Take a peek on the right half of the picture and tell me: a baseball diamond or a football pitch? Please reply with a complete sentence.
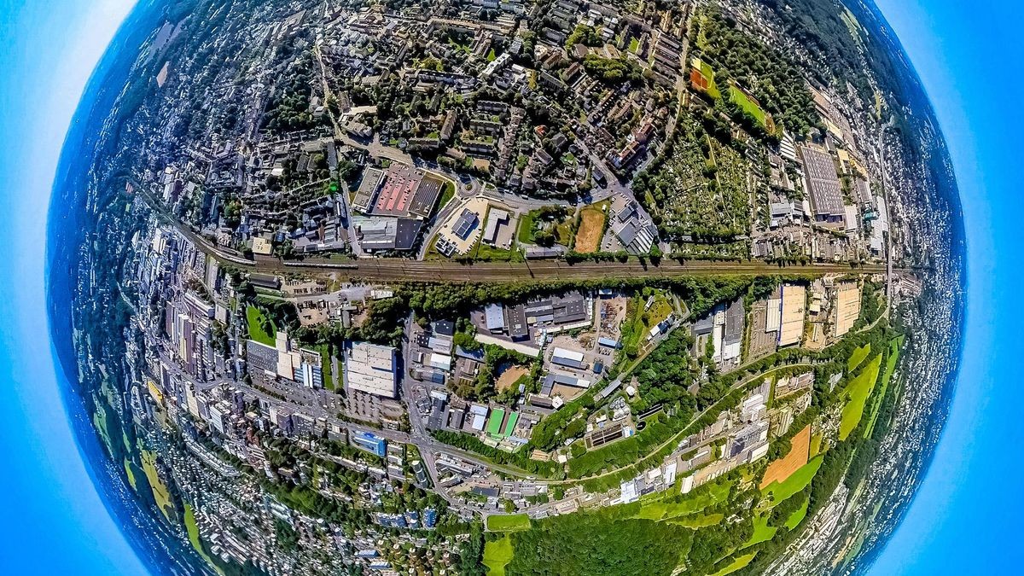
There is a football pitch on the right half of the picture.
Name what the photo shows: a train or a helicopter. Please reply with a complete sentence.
Visible in the photo is a train.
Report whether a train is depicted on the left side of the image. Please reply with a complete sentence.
Yes, the scene does show a train on the left side of the image.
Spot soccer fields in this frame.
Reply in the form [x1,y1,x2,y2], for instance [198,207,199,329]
[727,82,776,132]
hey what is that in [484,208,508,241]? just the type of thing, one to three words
building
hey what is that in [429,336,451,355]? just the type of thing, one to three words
building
